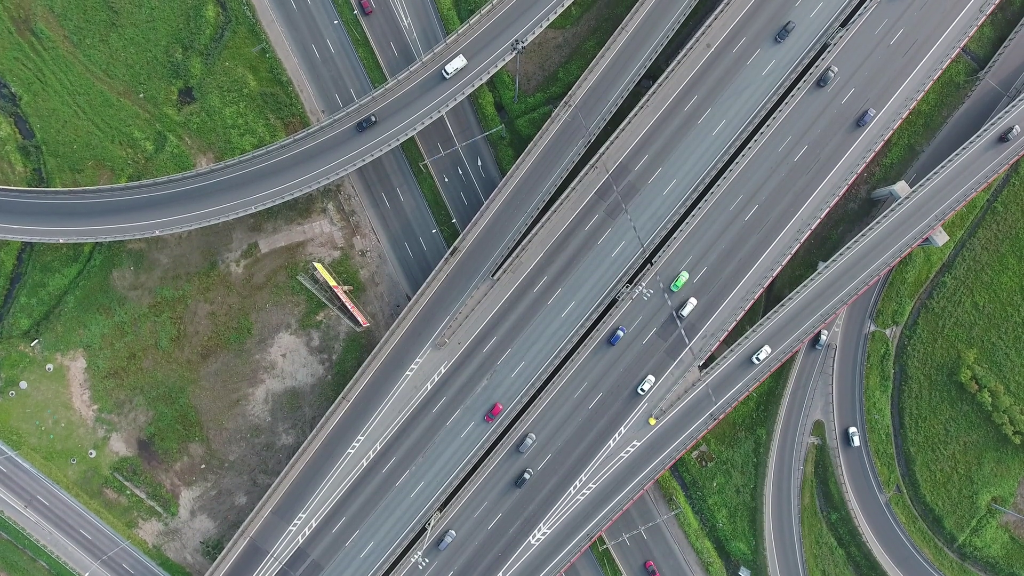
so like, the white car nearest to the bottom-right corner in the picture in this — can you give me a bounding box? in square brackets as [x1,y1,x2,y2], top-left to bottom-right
[846,426,859,447]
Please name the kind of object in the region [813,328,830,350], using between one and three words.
car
